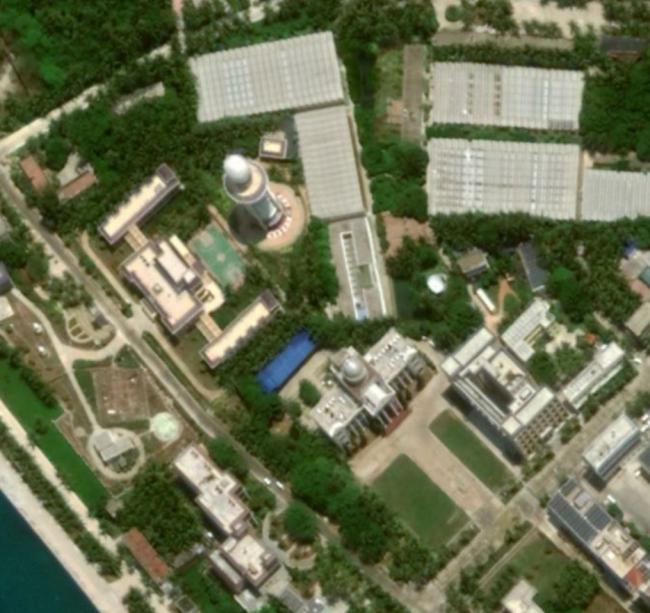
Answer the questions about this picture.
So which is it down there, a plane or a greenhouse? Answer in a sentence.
There is a greenhouse in the scene.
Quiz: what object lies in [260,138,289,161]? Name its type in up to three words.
building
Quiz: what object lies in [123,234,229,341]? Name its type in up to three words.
building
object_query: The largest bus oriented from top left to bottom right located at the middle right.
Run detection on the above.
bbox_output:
[475,286,495,312]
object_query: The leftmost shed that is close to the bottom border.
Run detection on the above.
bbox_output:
[124,529,170,583]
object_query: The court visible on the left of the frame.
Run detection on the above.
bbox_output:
[189,223,246,289]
